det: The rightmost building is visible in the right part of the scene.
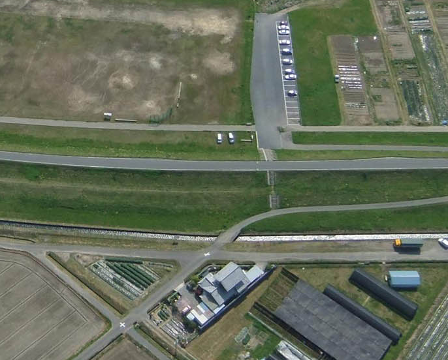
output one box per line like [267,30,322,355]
[388,271,419,290]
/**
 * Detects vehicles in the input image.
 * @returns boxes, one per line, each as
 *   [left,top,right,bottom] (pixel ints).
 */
[335,73,340,82]
[279,24,289,30]
[439,239,448,247]
[279,30,290,35]
[280,39,291,44]
[280,19,289,24]
[283,58,292,63]
[285,74,296,80]
[282,49,291,54]
[228,131,235,142]
[288,90,296,95]
[395,238,425,249]
[284,68,294,73]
